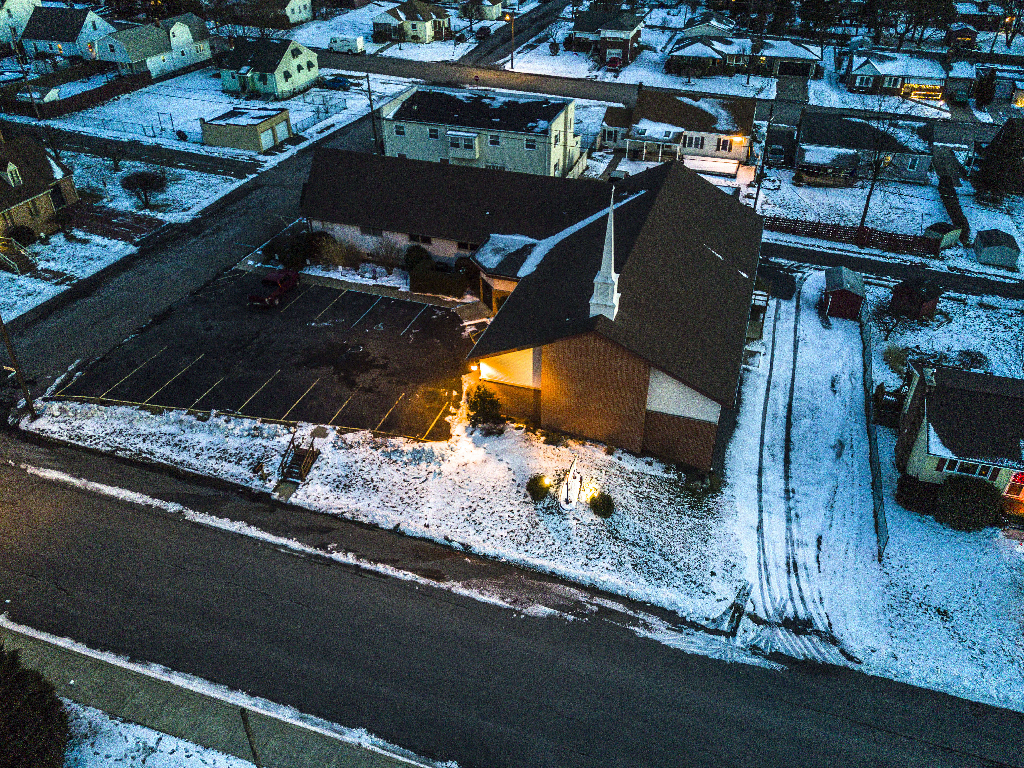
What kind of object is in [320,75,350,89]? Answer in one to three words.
car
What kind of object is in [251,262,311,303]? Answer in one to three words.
truck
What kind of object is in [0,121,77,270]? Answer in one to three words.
house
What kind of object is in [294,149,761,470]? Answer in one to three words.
church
